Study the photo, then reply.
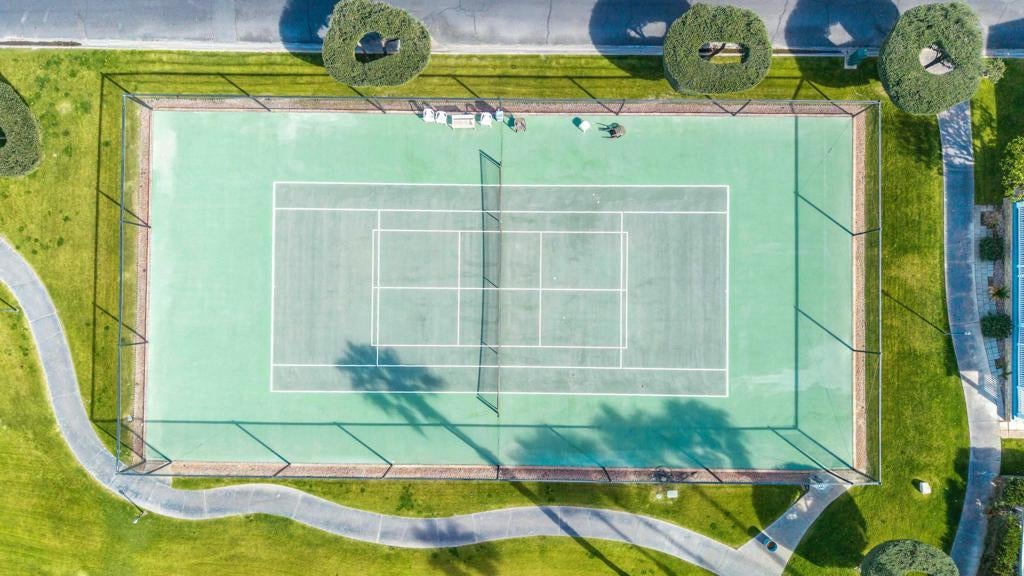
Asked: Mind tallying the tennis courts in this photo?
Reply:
1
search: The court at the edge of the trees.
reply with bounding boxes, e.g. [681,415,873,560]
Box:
[143,108,857,473]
